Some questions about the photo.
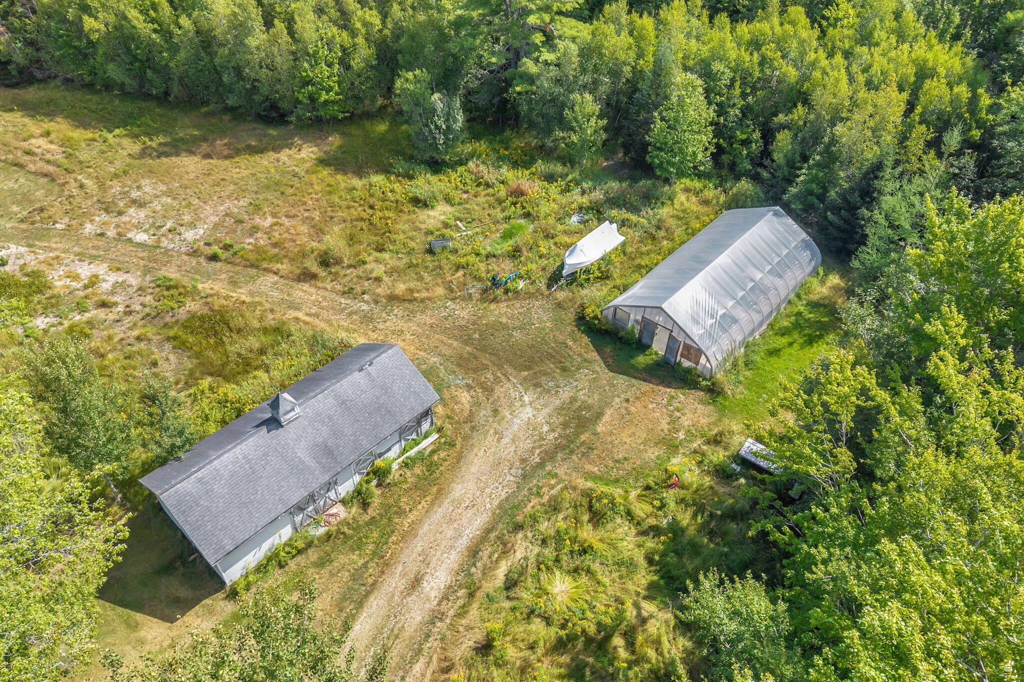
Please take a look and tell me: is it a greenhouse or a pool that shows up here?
greenhouse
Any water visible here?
No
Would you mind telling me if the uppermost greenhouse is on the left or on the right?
right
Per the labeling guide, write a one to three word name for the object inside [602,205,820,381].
greenhouse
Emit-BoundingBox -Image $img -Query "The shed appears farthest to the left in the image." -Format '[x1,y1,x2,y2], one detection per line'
[139,343,442,587]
